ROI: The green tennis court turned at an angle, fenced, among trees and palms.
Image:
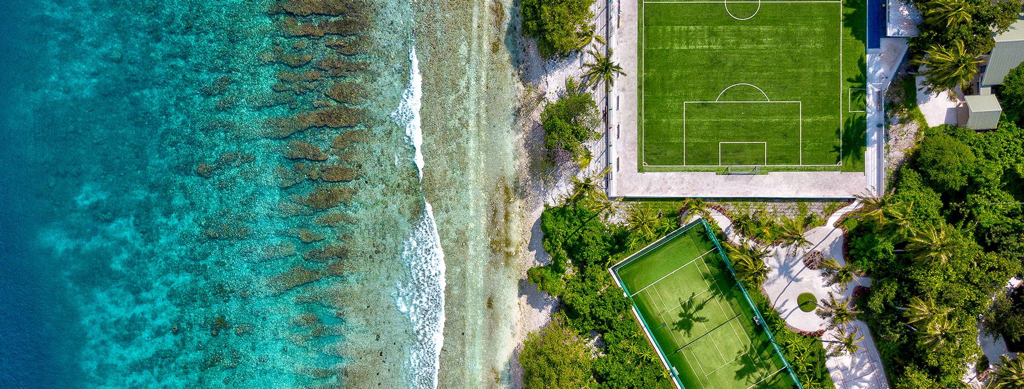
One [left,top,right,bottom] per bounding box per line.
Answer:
[609,219,794,389]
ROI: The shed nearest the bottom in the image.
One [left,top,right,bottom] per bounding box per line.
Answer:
[958,95,1003,130]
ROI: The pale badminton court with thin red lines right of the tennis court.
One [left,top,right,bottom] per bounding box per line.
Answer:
[824,320,890,389]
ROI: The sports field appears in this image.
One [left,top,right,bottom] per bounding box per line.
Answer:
[619,0,867,196]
